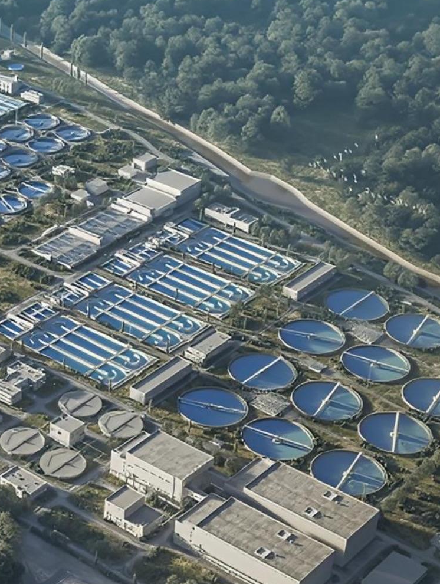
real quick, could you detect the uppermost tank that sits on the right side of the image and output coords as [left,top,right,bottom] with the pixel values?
[324,288,389,322]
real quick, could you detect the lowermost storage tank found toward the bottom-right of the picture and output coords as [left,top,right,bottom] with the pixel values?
[311,451,387,497]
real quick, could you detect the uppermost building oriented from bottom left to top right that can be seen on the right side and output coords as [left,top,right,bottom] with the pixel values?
[282,261,336,301]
